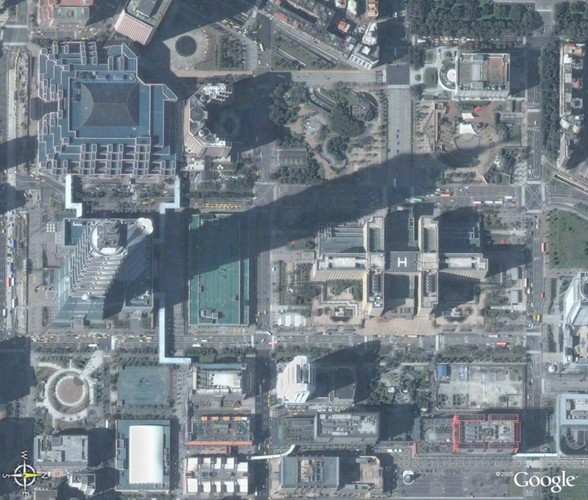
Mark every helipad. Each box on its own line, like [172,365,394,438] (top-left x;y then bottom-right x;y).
[386,253,418,270]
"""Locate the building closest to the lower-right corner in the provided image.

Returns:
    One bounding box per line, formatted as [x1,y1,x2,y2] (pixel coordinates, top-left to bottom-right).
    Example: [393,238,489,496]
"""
[549,394,588,460]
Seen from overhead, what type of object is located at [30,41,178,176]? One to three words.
building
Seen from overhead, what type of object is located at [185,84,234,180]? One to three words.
building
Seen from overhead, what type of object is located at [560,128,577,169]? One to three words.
house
